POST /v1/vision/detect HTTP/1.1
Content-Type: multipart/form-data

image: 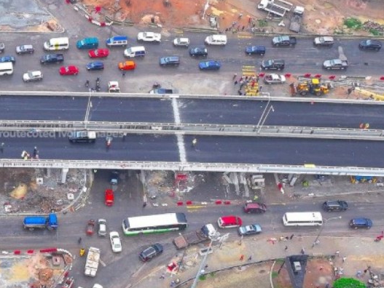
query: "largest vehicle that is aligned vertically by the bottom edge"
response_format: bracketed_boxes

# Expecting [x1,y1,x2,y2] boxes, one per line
[83,243,103,284]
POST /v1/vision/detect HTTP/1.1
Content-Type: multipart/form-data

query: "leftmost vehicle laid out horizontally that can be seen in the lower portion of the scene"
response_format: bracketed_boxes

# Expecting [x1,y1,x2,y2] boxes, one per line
[21,213,59,231]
